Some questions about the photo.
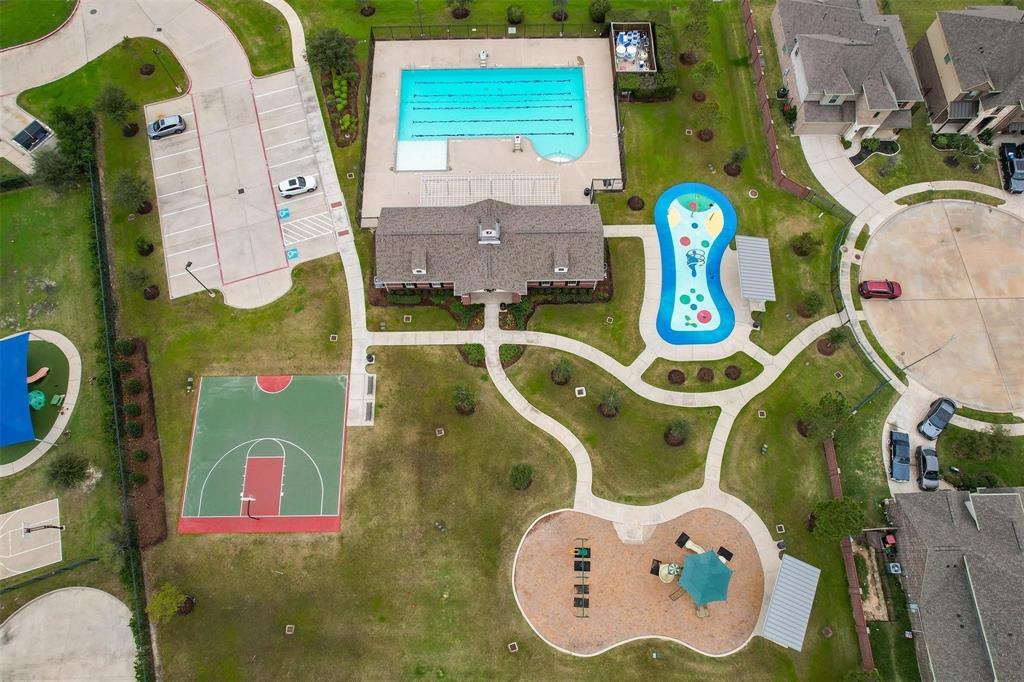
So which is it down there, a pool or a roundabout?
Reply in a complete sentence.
There is a pool in the scene.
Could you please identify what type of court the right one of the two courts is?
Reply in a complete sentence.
The right one of the two courts appears to be a basketball court.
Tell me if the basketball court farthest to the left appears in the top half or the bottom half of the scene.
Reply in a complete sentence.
The basketball court farthest to the left sits in the bottom half of the picture.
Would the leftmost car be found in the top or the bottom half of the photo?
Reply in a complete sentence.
Seen from above, the leftmost car lies in the top half of the view.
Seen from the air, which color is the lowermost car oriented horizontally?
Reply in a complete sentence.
From above, the lowermost car oriented horizontally appears red.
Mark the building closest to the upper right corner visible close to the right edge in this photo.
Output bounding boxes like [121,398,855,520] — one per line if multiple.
[913,10,1024,137]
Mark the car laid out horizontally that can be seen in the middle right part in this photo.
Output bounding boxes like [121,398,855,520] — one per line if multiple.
[856,278,903,299]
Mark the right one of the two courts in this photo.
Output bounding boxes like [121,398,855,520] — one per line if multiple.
[178,374,349,533]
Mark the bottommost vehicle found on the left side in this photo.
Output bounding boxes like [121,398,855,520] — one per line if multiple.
[277,175,318,199]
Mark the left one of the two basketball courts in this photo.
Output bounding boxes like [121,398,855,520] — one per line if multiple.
[0,499,62,579]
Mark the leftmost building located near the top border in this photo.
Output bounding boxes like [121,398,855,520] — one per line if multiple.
[772,0,924,141]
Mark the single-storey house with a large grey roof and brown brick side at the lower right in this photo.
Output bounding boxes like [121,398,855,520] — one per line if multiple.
[887,483,1024,682]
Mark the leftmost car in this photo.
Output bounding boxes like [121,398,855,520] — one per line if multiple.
[147,114,187,140]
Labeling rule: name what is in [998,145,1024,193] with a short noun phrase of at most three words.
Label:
truck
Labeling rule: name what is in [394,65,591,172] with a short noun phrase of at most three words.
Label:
swimming pool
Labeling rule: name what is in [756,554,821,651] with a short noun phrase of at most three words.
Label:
building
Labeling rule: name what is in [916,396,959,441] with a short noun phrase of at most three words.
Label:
car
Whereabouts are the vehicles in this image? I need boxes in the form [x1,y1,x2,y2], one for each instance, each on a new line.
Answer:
[916,396,959,441]
[916,444,943,491]
[886,429,914,483]
[277,175,318,199]
[998,145,1024,193]
[856,278,903,299]
[147,114,187,140]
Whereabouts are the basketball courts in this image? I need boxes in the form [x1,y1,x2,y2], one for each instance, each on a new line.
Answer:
[0,499,62,579]
[178,374,349,533]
